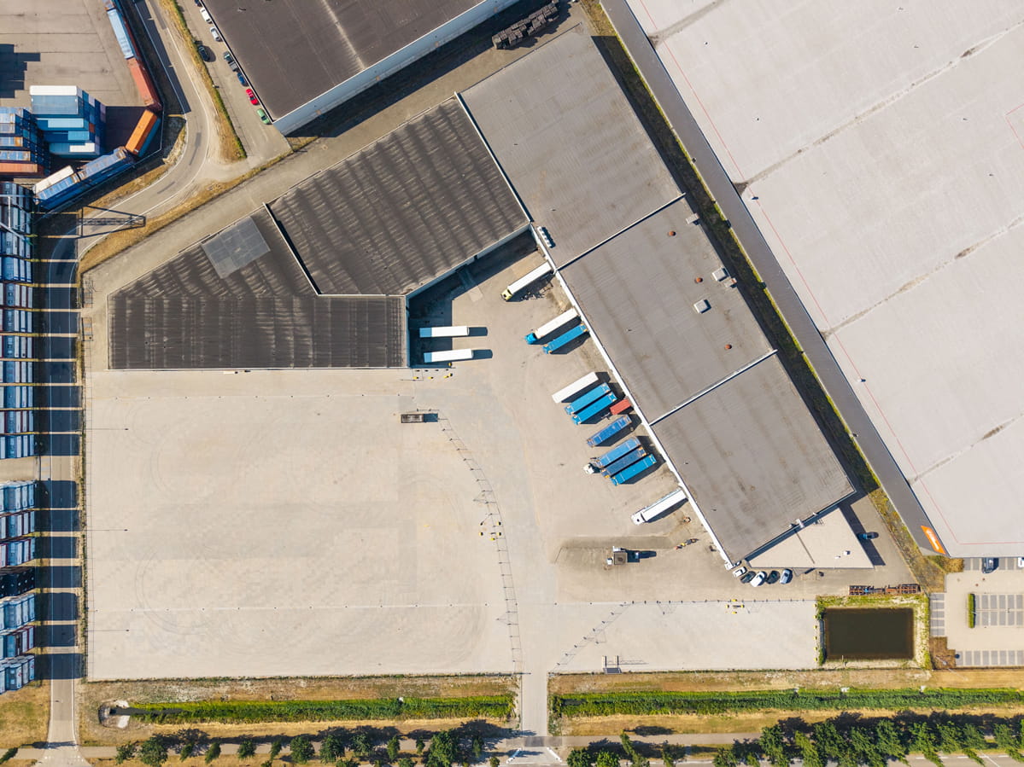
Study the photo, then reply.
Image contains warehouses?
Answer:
Yes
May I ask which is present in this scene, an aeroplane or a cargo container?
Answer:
cargo container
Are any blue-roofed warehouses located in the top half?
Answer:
No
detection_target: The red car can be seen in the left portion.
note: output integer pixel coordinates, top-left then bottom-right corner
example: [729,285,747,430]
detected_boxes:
[246,88,259,106]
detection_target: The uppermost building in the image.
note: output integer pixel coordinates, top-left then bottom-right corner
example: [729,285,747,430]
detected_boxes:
[204,0,533,136]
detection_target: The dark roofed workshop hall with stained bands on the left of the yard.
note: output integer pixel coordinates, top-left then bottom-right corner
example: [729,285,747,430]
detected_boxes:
[108,203,411,373]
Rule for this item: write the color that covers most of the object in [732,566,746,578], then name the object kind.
white vehicle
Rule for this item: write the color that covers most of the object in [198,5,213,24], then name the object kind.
white car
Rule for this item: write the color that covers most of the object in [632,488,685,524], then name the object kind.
white truck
